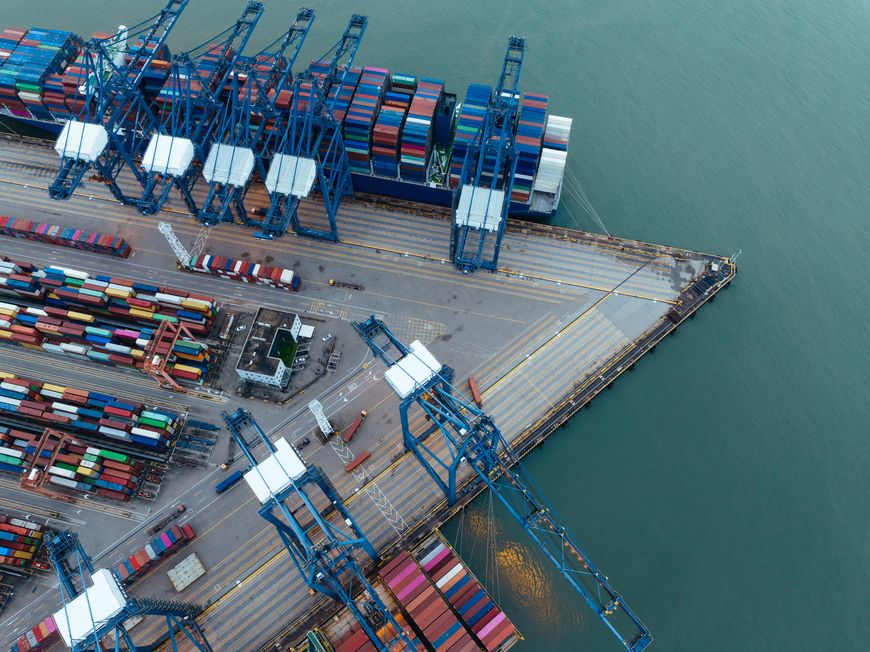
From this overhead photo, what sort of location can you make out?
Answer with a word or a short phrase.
port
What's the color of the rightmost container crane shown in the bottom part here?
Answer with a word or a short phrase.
blue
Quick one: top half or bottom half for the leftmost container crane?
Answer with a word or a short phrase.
bottom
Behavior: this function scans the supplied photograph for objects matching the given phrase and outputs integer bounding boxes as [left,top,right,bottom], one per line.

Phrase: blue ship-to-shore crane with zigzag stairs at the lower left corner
[29,500,206,652]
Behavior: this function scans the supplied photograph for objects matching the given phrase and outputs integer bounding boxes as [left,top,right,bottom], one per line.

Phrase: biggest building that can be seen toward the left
[236,307,300,392]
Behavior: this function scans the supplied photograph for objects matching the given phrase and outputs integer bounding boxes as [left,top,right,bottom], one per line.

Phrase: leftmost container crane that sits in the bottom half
[15,426,100,502]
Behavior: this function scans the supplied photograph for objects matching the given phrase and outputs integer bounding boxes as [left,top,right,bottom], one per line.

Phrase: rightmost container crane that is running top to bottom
[443,36,527,296]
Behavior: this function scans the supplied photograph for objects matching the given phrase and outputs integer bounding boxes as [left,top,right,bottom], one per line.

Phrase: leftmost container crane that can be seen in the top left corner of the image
[28,0,188,219]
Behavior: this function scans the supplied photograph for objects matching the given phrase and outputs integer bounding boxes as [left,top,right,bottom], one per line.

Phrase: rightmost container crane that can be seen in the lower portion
[342,297,655,652]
